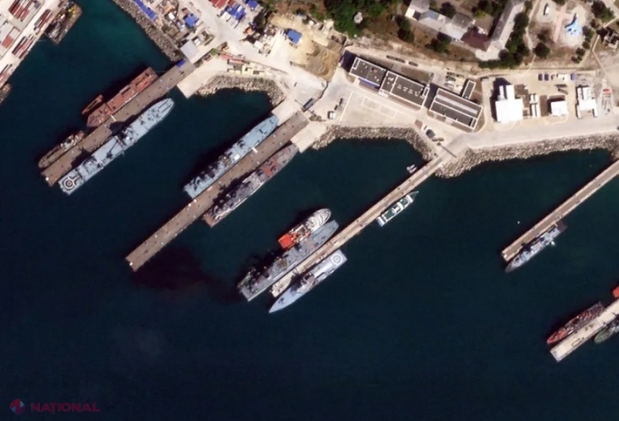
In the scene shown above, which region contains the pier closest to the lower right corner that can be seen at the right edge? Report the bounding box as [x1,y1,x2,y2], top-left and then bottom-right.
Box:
[549,299,619,362]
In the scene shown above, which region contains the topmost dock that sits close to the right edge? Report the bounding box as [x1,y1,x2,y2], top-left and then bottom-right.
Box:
[502,160,619,261]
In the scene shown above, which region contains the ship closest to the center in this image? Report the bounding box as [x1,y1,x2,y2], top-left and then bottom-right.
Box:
[278,210,330,250]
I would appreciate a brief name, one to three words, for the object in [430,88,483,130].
building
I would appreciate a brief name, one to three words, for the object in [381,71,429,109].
building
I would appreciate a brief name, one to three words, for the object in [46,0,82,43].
vessel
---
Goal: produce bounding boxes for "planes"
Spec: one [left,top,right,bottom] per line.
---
[565,13,579,36]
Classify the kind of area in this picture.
port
